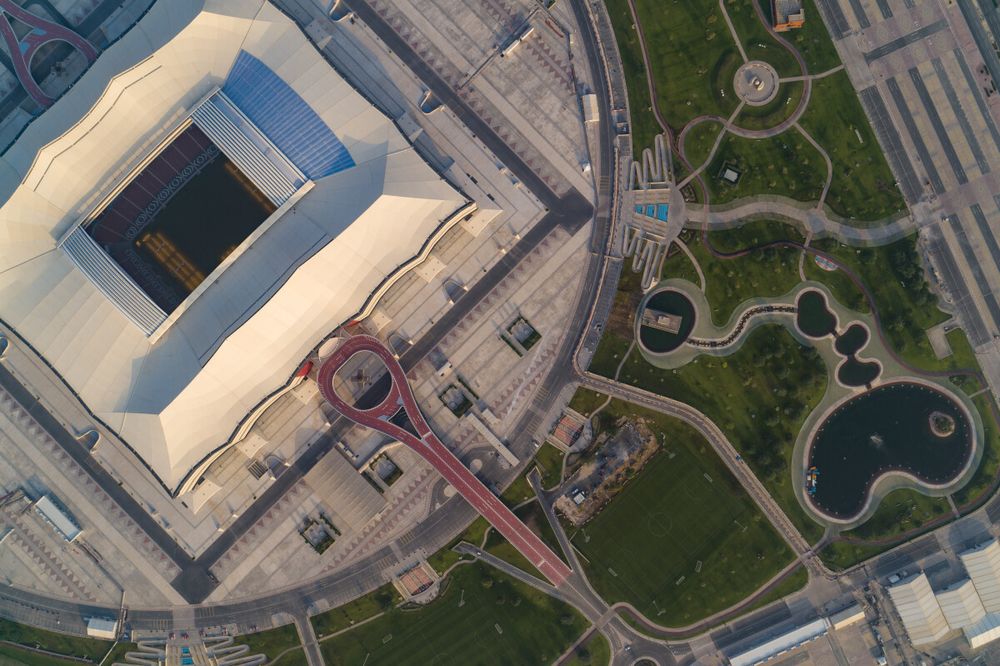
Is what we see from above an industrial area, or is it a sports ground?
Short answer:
sports ground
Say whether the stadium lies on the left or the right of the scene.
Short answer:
left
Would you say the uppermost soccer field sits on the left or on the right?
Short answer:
left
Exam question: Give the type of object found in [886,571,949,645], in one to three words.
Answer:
tent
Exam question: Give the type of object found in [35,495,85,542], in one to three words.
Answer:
building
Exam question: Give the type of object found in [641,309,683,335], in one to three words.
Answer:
building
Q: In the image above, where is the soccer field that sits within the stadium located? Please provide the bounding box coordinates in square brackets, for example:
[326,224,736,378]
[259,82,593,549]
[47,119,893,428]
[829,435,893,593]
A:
[136,154,286,298]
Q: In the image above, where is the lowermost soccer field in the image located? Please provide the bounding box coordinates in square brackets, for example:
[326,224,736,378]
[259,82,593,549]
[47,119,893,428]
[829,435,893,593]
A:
[355,577,539,666]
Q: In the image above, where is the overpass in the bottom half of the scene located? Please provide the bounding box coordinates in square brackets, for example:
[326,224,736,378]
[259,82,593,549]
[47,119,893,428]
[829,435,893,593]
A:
[317,335,571,588]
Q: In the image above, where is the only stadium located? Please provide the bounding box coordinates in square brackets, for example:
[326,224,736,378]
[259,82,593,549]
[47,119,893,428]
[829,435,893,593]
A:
[0,0,503,513]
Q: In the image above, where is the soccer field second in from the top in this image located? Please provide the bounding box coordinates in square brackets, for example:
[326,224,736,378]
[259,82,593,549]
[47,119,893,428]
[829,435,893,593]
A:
[571,437,748,611]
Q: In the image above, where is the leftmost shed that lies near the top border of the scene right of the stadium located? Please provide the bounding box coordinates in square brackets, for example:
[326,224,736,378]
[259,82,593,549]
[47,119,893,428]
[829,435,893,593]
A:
[501,24,534,58]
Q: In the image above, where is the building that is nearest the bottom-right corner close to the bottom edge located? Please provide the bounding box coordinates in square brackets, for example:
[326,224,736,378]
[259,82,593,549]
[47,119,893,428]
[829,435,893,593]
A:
[960,610,1000,641]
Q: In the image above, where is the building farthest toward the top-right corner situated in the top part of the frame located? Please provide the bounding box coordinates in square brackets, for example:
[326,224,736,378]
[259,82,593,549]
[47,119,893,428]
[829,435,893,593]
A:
[772,0,806,31]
